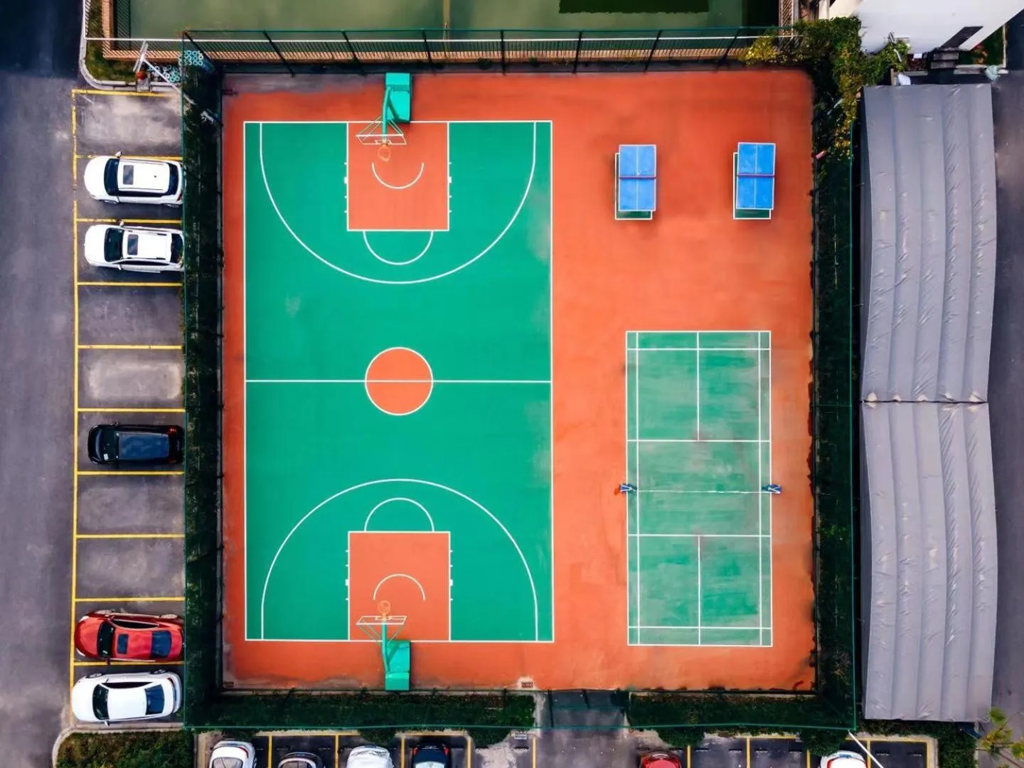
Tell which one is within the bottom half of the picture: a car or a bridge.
car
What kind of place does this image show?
sports ground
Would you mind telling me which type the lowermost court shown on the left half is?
basketball court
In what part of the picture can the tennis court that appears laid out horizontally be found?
top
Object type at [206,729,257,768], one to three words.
car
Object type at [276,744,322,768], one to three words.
car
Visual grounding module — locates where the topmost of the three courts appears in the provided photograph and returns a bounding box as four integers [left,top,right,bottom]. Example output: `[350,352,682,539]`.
[114,0,779,50]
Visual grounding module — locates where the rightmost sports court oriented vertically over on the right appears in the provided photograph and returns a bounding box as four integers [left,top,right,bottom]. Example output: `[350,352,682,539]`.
[626,331,772,647]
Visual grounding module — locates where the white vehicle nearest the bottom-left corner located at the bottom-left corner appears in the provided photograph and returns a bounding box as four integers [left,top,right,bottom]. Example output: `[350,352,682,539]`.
[72,666,186,723]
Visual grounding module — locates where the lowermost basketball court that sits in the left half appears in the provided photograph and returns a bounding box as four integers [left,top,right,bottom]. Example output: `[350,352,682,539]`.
[244,120,554,642]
